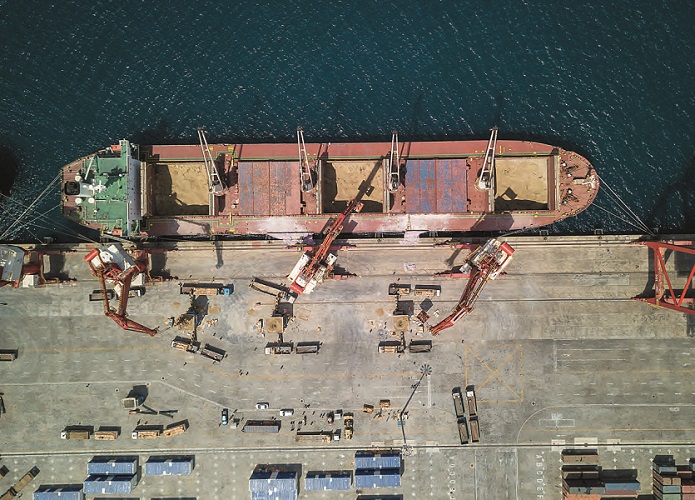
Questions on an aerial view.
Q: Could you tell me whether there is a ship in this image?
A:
Yes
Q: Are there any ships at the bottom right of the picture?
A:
No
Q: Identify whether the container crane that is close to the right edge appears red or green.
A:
red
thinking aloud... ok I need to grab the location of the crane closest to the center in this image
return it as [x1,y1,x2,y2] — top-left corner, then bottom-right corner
[285,198,362,299]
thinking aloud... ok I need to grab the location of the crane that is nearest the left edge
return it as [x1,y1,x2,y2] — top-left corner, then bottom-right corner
[0,239,74,293]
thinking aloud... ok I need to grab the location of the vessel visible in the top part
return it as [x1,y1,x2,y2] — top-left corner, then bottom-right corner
[60,124,601,247]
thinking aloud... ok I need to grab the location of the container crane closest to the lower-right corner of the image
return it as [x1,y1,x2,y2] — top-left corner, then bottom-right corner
[629,242,695,315]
